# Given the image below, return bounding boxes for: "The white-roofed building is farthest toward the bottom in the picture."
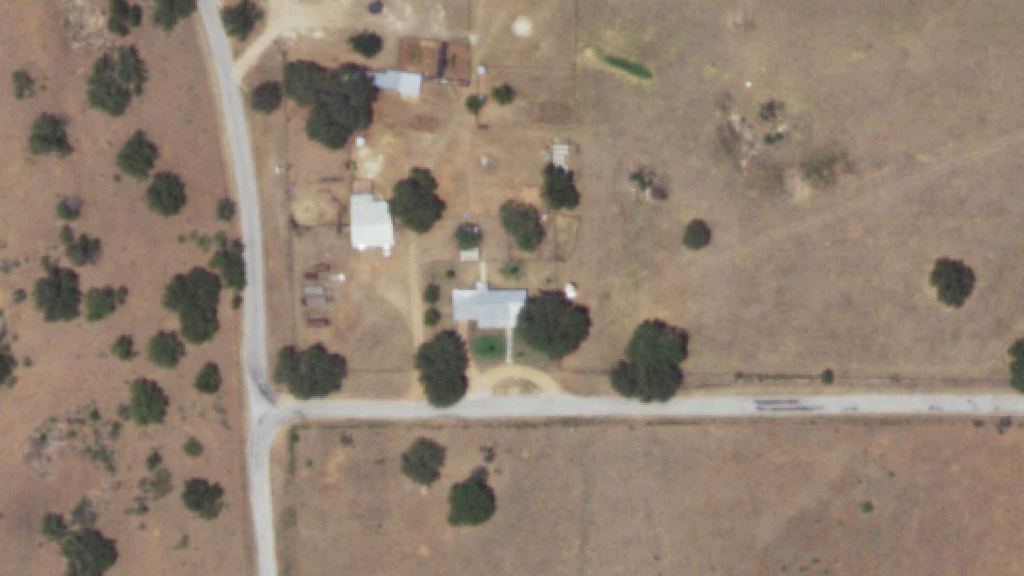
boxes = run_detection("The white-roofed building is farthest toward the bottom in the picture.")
[452,282,526,328]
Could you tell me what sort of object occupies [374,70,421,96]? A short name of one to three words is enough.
shed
